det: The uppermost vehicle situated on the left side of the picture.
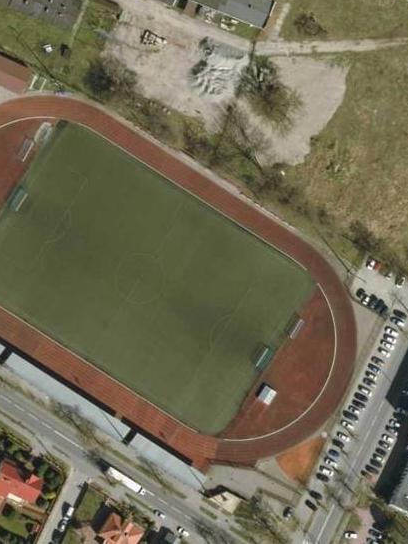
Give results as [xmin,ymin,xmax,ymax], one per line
[104,466,146,496]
